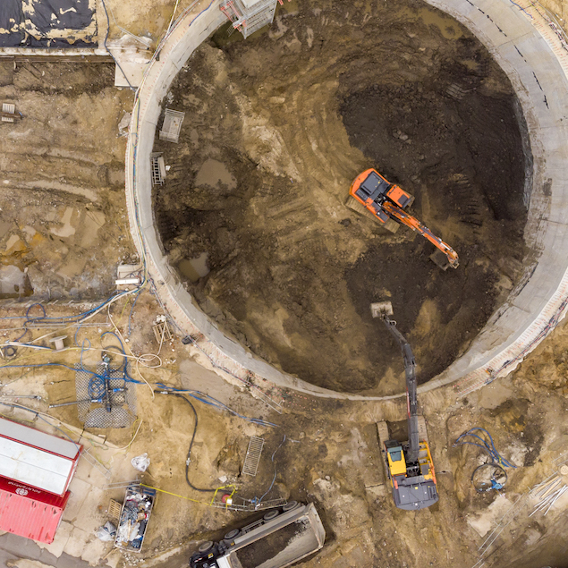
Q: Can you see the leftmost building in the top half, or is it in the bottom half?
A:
bottom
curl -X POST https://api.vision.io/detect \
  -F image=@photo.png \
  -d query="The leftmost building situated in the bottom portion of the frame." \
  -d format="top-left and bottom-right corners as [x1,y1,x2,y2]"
[0,419,84,495]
